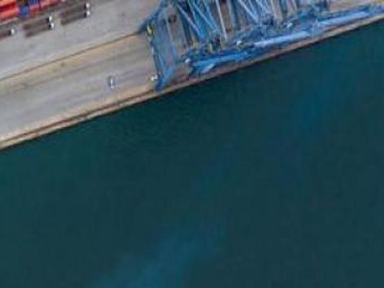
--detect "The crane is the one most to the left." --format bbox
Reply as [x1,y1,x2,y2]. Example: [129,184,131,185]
[135,0,251,88]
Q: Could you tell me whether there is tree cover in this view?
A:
No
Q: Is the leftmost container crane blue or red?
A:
blue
